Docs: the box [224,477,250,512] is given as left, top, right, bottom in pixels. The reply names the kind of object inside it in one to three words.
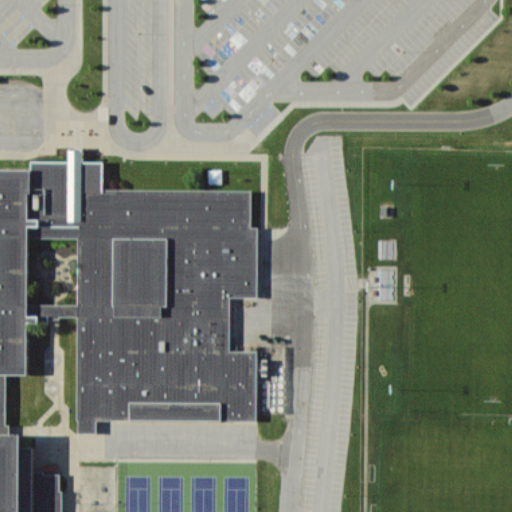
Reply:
tennis court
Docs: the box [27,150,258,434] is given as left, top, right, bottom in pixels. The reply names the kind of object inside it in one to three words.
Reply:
building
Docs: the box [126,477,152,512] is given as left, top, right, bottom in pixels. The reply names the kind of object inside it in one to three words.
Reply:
tennis court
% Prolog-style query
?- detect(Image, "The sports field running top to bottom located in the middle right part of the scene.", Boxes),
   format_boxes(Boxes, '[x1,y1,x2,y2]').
[442,153,512,416]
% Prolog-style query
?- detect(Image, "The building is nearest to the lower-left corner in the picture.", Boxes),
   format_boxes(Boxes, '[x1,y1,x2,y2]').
[0,377,62,512]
